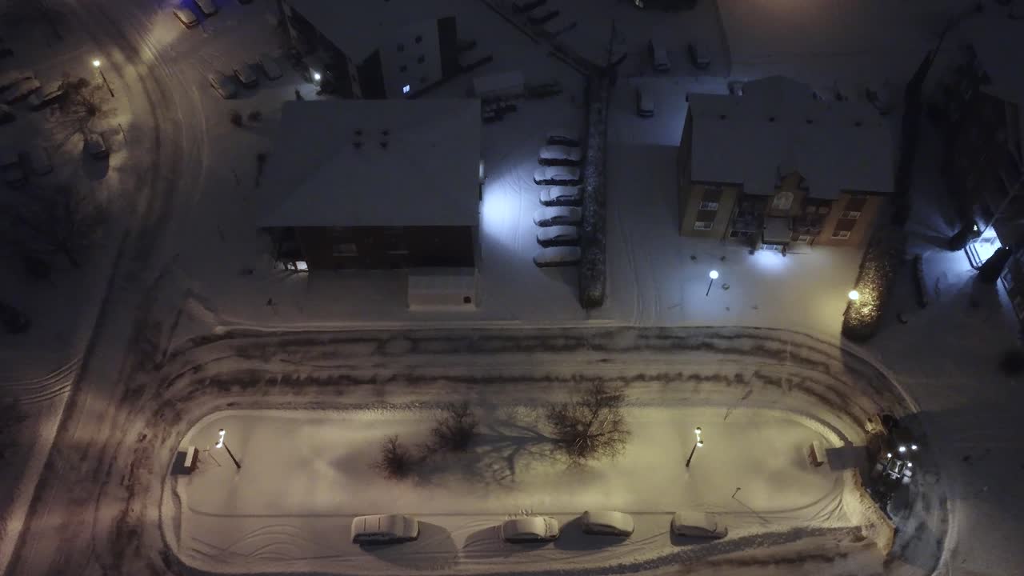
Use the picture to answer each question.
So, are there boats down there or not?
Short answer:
No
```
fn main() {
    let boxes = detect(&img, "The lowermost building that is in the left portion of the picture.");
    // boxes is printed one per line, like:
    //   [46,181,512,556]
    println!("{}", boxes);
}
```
[257,98,484,308]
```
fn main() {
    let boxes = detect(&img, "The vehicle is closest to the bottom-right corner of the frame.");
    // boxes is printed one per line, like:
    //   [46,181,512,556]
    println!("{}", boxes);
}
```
[859,412,916,499]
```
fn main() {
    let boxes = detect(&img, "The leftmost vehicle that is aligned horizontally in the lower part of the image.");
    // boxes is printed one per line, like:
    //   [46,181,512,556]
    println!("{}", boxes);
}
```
[351,513,418,546]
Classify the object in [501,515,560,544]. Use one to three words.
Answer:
car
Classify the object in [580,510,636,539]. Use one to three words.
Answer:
car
